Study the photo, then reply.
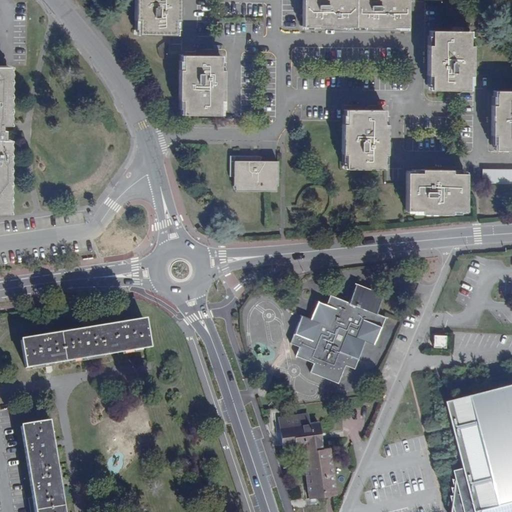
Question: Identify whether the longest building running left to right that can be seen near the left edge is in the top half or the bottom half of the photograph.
bottom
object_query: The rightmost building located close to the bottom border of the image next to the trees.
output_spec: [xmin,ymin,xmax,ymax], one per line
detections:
[444,385,512,512]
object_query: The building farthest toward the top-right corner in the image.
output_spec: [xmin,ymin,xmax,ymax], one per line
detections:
[428,32,477,92]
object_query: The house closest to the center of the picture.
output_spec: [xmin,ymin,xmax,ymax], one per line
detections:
[229,156,279,190]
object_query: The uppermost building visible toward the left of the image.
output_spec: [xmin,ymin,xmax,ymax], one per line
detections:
[134,0,183,36]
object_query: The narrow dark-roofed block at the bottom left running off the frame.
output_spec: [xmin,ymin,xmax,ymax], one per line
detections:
[19,418,67,512]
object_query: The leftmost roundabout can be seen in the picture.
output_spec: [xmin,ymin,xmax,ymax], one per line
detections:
[142,232,219,308]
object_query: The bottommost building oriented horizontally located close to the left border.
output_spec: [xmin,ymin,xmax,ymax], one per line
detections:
[22,316,154,367]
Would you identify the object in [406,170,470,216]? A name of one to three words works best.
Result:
building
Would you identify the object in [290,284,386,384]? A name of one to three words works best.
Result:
building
